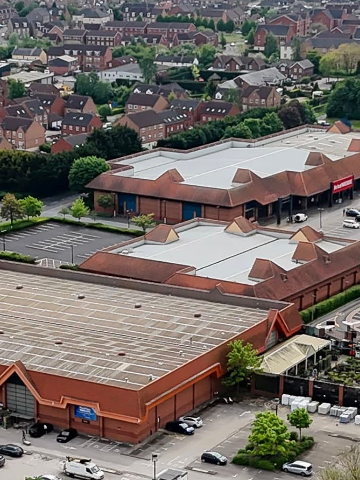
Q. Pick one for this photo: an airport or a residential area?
residential area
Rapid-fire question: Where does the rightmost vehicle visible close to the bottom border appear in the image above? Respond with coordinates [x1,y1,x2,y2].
[283,460,315,476]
